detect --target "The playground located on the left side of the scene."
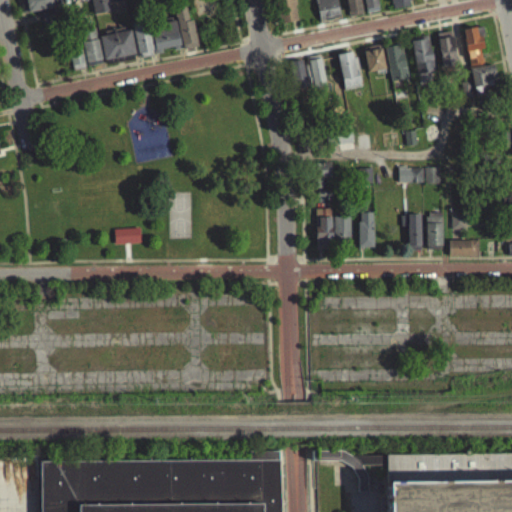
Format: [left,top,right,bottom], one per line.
[128,104,172,163]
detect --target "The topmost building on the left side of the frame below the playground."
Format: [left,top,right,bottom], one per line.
[114,228,142,244]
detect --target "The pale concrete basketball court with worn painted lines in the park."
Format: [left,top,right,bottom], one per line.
[170,192,192,238]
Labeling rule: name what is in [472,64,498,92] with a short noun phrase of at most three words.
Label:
shed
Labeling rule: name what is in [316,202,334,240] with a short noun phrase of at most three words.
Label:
house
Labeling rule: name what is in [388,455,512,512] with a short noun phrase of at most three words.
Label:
building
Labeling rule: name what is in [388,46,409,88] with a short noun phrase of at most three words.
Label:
house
